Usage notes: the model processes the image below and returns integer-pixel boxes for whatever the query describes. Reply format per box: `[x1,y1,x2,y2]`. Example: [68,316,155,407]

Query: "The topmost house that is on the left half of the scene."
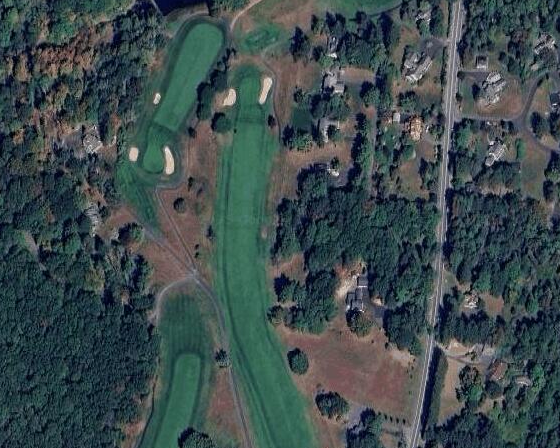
[80,130,104,153]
